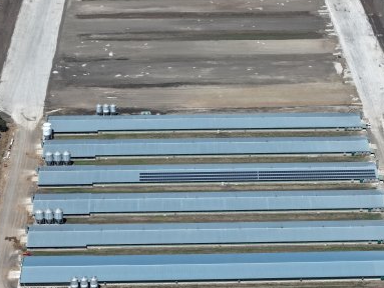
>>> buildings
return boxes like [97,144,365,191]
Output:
[33,136,380,162]
[28,162,384,190]
[10,252,384,288]
[39,112,372,137]
[23,190,384,220]
[16,221,384,252]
